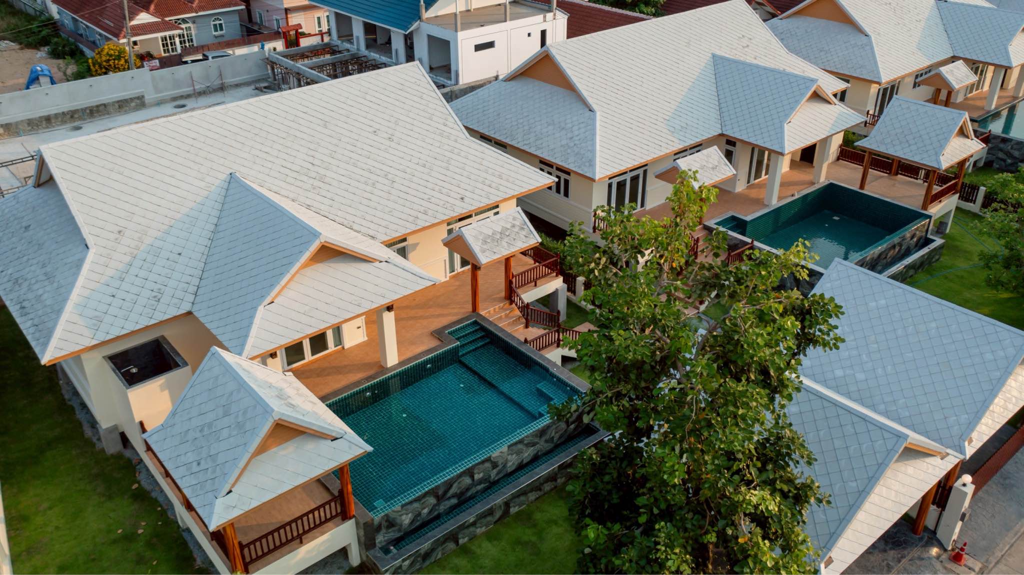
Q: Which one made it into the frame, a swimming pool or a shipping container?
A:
swimming pool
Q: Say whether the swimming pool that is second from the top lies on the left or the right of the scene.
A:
right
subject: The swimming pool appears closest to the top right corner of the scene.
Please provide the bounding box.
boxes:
[978,98,1024,175]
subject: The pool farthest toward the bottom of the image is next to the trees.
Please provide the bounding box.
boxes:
[319,314,610,575]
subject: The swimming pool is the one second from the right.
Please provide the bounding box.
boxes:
[703,179,949,306]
